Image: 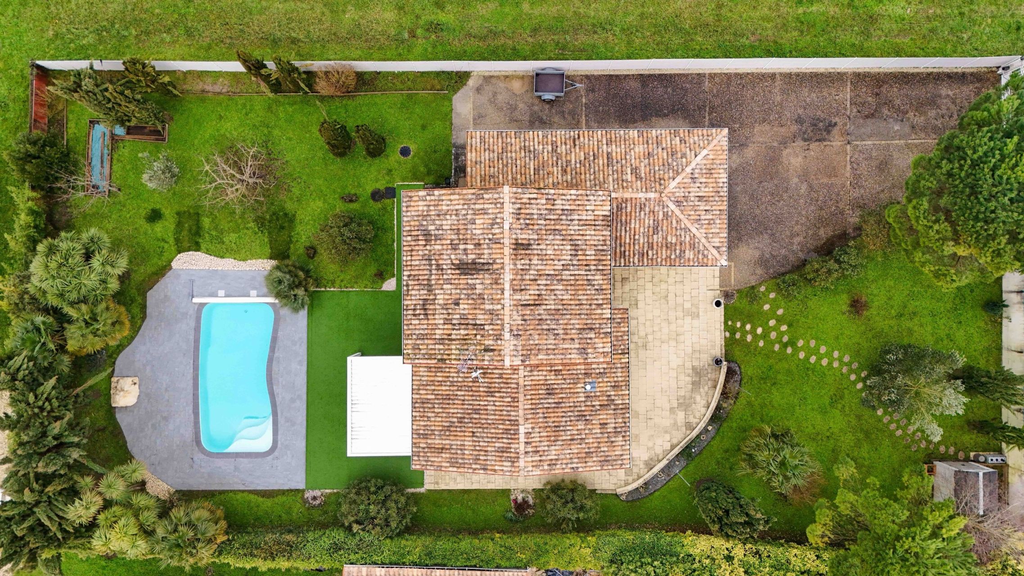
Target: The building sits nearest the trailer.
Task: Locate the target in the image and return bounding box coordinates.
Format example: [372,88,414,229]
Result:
[399,126,730,479]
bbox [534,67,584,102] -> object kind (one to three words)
trailer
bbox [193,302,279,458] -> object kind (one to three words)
swimming pool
